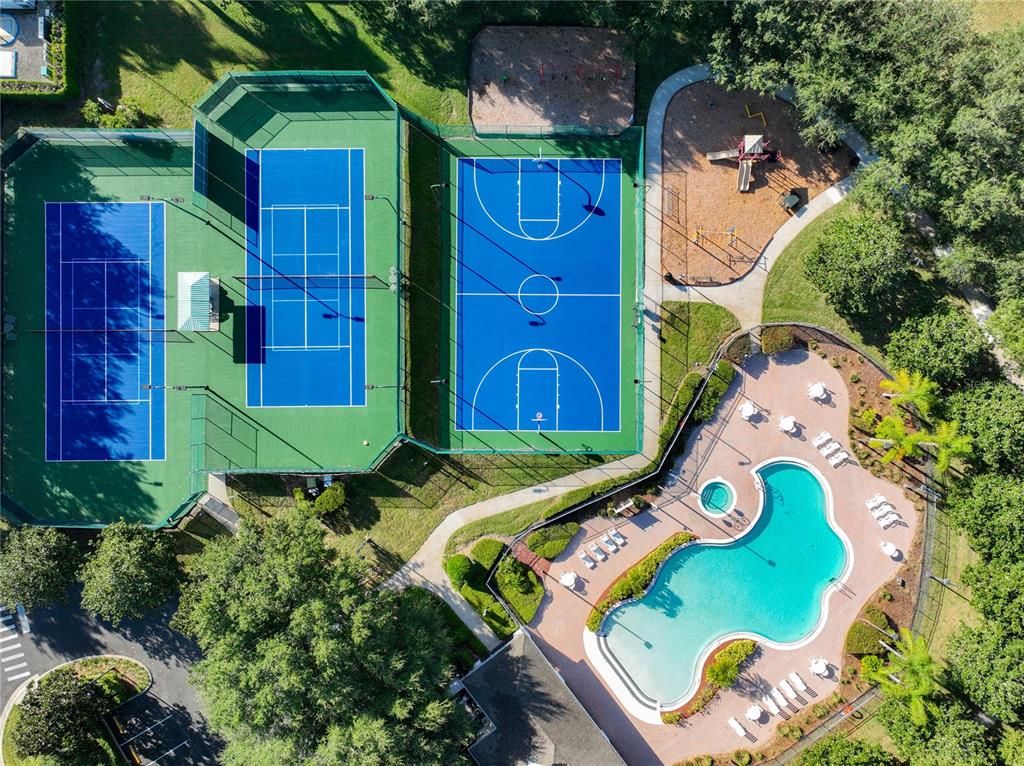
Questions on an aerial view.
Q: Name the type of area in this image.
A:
sports ground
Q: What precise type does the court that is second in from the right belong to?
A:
tennis court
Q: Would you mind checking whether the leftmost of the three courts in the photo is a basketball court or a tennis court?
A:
tennis court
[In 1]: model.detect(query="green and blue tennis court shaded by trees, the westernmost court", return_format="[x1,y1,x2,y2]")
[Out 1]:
[5,139,209,523]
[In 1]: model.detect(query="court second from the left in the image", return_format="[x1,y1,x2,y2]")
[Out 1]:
[209,84,405,470]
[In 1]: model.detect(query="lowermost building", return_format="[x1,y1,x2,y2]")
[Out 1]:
[459,629,626,766]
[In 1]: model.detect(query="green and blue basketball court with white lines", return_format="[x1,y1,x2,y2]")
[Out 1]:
[440,139,635,450]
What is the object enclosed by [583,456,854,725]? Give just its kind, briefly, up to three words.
swimming pool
